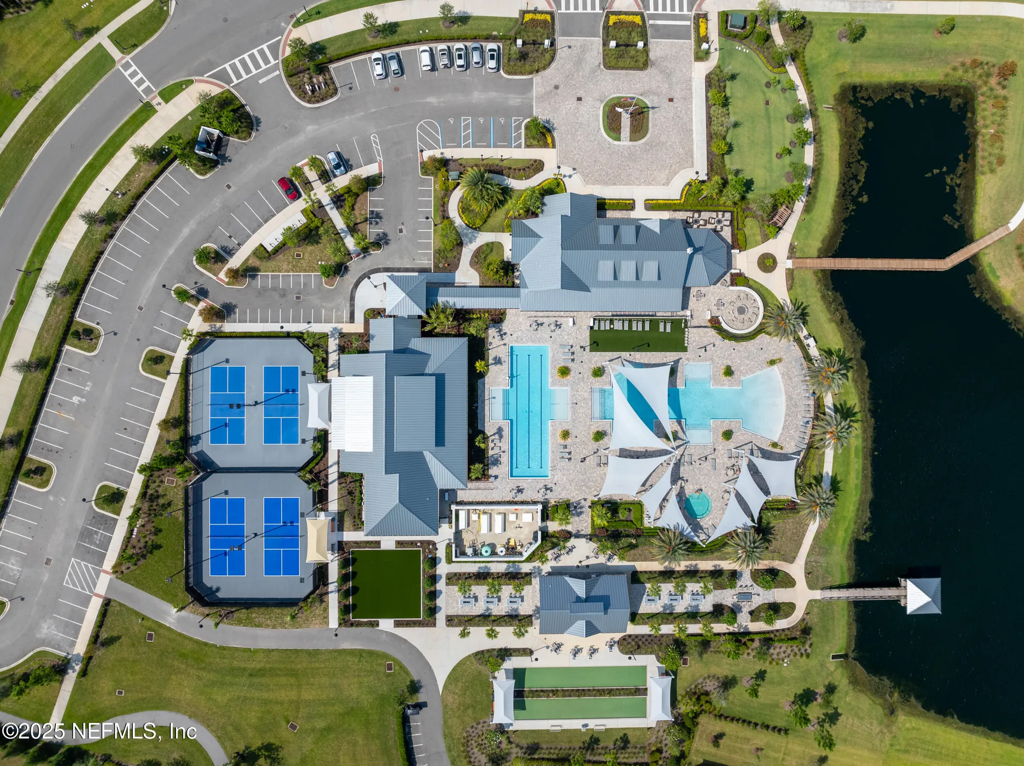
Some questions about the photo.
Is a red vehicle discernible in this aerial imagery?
Yes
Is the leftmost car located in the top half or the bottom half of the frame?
top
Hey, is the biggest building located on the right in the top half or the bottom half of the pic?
top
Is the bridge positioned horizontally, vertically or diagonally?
horizontally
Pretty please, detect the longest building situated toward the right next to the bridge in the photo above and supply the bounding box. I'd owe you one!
[512,192,727,312]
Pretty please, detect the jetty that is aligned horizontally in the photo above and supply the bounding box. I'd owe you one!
[819,588,905,602]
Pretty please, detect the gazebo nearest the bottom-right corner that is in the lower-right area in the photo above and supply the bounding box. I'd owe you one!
[897,575,942,615]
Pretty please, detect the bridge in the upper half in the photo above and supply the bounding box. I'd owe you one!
[790,222,1017,271]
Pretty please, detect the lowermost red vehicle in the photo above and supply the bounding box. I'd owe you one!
[277,175,299,202]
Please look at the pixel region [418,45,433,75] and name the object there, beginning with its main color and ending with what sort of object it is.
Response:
white car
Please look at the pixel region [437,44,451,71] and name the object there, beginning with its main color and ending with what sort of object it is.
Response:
white car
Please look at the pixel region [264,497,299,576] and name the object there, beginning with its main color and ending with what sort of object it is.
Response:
blue sports court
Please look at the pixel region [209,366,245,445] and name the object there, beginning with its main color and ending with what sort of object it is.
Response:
blue sports court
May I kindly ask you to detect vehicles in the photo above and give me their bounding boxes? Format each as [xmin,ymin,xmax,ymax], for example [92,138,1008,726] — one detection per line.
[327,148,346,178]
[485,44,499,74]
[800,332,818,349]
[453,44,467,73]
[418,45,433,75]
[387,51,402,80]
[470,43,483,69]
[407,704,421,716]
[371,52,386,81]
[437,44,451,71]
[277,175,299,202]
